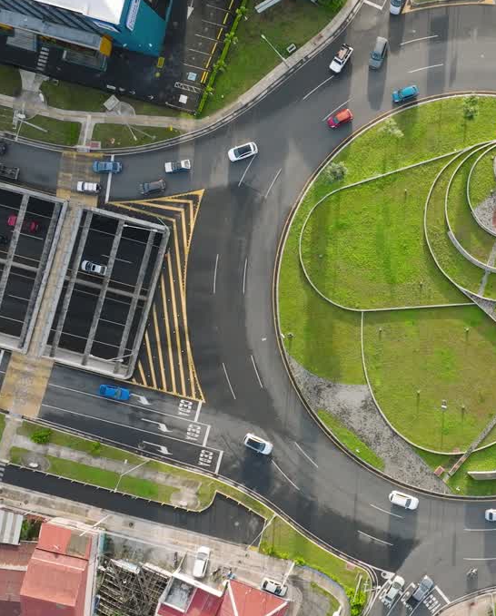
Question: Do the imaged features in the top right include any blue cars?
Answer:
Yes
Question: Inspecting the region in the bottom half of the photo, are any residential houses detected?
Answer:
Yes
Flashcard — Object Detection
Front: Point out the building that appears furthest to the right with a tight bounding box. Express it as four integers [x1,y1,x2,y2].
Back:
[221,576,289,616]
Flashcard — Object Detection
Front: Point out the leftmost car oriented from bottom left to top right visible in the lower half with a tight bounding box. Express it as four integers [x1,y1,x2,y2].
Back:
[381,575,403,604]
